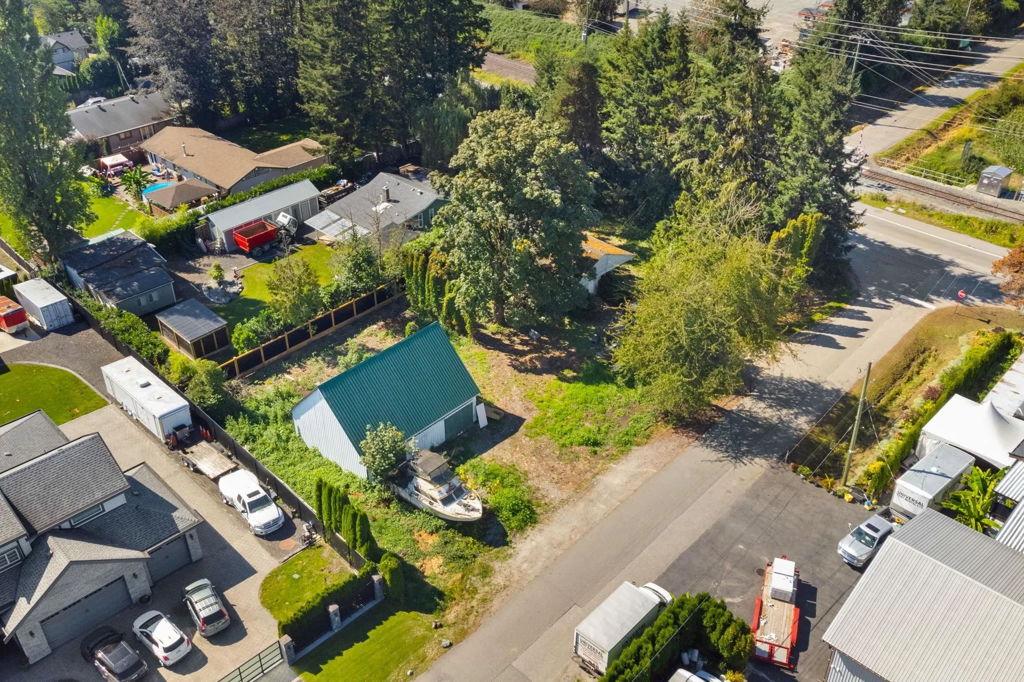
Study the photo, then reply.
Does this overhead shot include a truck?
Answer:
Yes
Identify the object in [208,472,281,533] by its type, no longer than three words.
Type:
truck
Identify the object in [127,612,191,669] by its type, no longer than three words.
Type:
car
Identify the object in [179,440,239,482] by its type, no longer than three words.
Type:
trailer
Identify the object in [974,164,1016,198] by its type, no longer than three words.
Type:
house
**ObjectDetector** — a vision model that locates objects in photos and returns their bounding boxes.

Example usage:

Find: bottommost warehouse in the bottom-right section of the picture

[818,509,1024,682]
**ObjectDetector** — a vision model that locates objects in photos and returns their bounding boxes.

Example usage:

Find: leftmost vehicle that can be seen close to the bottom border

[75,635,145,682]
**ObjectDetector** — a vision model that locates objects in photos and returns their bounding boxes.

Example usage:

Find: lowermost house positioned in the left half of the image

[0,410,208,667]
